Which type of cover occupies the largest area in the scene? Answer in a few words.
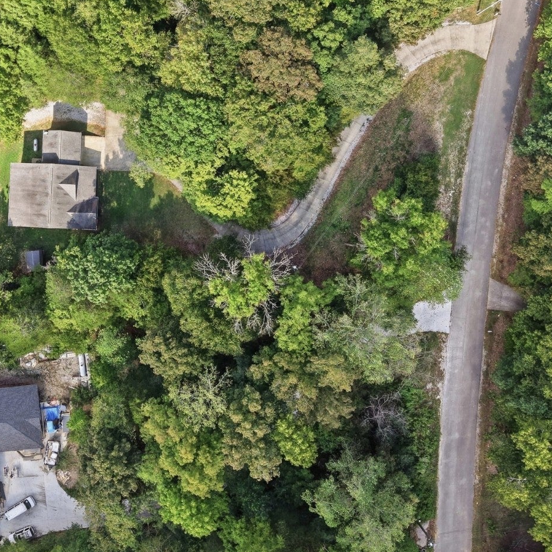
trees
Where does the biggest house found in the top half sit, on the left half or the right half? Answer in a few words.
left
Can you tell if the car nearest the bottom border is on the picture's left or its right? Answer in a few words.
left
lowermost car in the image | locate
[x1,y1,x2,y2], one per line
[8,525,38,545]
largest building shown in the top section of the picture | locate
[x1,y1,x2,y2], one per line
[8,162,99,229]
